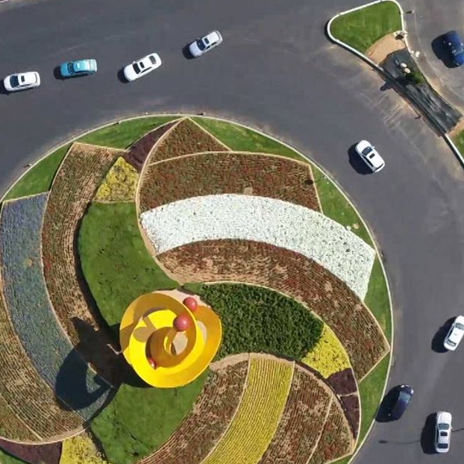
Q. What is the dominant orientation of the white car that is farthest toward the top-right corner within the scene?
on a diagonal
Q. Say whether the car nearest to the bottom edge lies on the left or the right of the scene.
right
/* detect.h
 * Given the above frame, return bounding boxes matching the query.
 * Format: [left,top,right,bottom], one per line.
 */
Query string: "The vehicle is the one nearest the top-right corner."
[441,29,464,68]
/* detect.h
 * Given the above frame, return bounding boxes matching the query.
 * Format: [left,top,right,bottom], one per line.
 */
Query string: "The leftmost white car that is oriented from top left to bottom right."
[353,139,386,174]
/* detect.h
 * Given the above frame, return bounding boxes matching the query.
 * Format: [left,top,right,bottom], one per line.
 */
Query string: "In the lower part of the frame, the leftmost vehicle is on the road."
[388,384,415,421]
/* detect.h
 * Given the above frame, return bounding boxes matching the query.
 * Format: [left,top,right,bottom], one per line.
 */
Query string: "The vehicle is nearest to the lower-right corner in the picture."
[433,413,452,450]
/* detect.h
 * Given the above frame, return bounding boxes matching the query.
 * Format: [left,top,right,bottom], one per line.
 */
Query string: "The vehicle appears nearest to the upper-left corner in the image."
[7,72,40,90]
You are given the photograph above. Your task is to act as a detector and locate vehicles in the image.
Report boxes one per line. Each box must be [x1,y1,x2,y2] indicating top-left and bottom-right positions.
[441,29,464,68]
[61,58,97,77]
[433,413,452,450]
[7,72,40,90]
[187,29,224,57]
[353,139,386,174]
[388,384,415,421]
[125,54,162,82]
[442,315,464,352]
